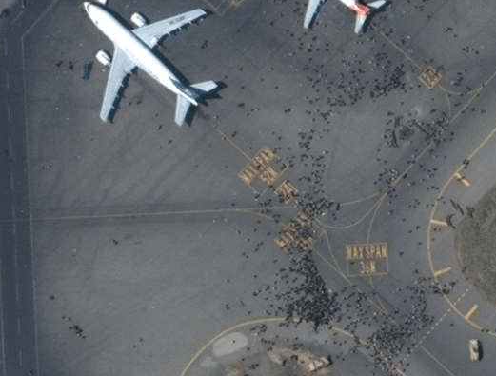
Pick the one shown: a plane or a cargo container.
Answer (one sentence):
I can see a plane in this picture.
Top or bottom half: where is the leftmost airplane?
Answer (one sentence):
It is in the top half that the leftmost airplane appears.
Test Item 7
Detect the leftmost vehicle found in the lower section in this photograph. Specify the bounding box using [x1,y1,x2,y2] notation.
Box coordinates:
[305,358,329,373]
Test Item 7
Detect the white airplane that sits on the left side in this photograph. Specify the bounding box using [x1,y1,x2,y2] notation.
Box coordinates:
[85,2,220,124]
